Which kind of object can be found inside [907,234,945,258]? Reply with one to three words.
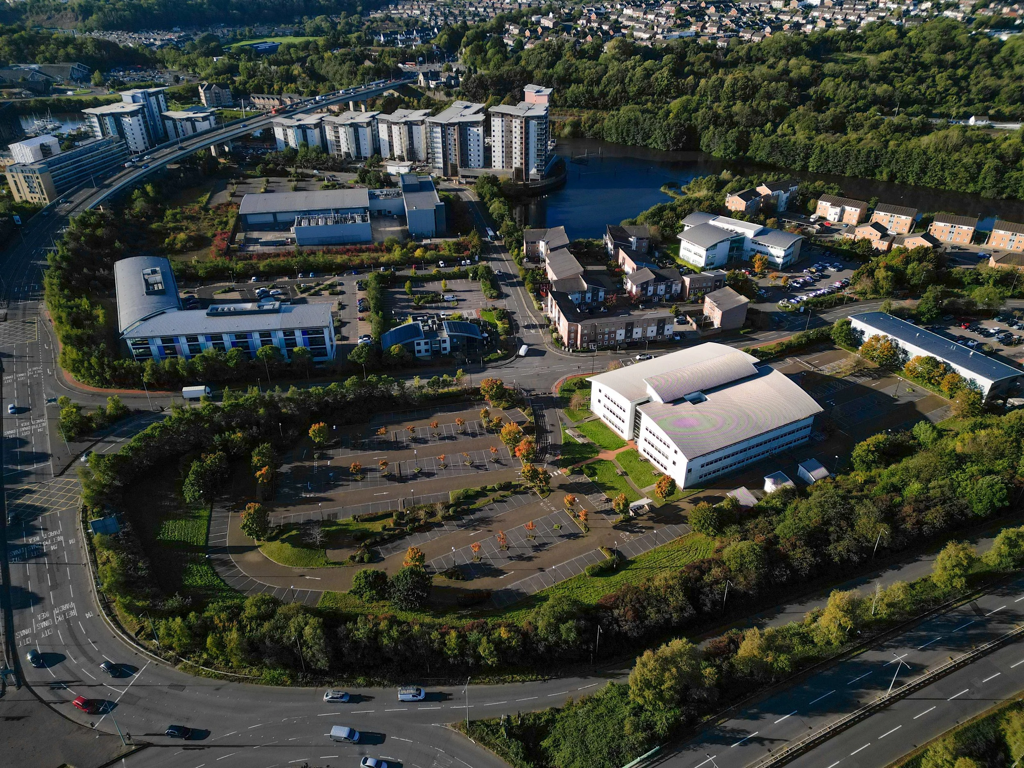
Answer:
house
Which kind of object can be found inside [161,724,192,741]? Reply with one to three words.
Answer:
car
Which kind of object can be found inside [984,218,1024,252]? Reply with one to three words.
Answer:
building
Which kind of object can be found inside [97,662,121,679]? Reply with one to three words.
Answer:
car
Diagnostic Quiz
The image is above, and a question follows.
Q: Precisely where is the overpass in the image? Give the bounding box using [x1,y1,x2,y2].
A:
[15,78,414,236]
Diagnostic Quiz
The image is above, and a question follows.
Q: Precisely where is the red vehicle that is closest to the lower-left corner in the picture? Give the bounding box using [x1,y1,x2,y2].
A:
[70,696,98,715]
